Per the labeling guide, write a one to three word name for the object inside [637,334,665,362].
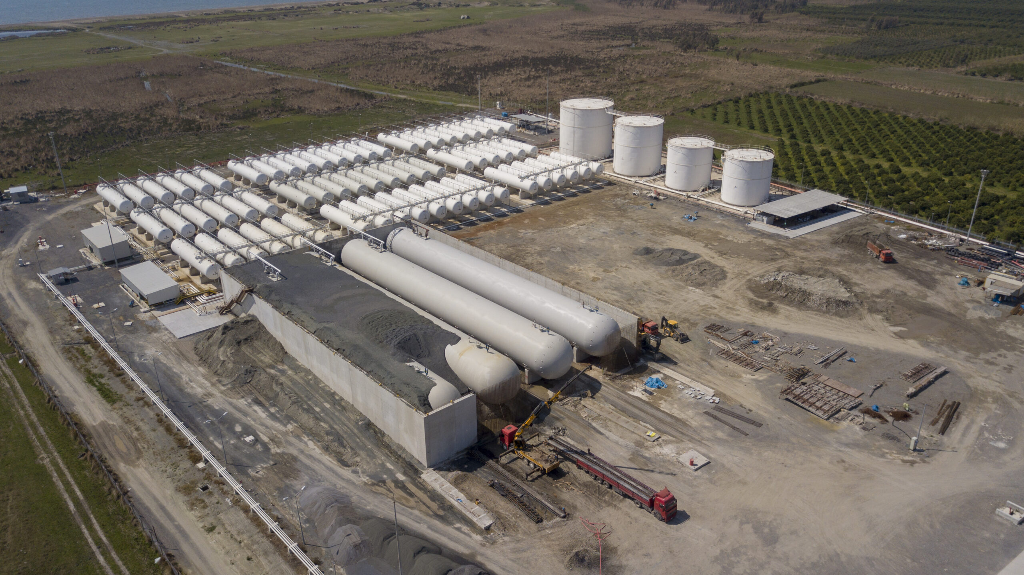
work vehicle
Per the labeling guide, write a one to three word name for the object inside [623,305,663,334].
truck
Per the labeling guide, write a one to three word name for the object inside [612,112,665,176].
storage tank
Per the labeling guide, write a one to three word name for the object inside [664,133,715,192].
storage tank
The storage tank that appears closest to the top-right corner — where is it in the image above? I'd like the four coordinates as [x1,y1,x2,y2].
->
[719,145,776,208]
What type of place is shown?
industrial area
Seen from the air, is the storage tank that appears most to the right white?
Yes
